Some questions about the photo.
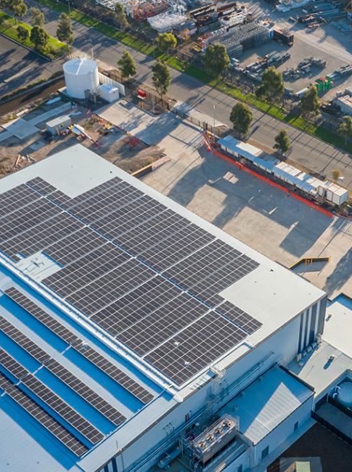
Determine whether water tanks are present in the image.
Yes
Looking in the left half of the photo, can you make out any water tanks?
Yes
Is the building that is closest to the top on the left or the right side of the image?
left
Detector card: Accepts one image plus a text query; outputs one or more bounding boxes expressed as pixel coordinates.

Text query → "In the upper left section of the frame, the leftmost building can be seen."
[45,116,72,134]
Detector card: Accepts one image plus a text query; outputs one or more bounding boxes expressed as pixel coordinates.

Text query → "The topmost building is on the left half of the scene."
[100,84,120,106]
